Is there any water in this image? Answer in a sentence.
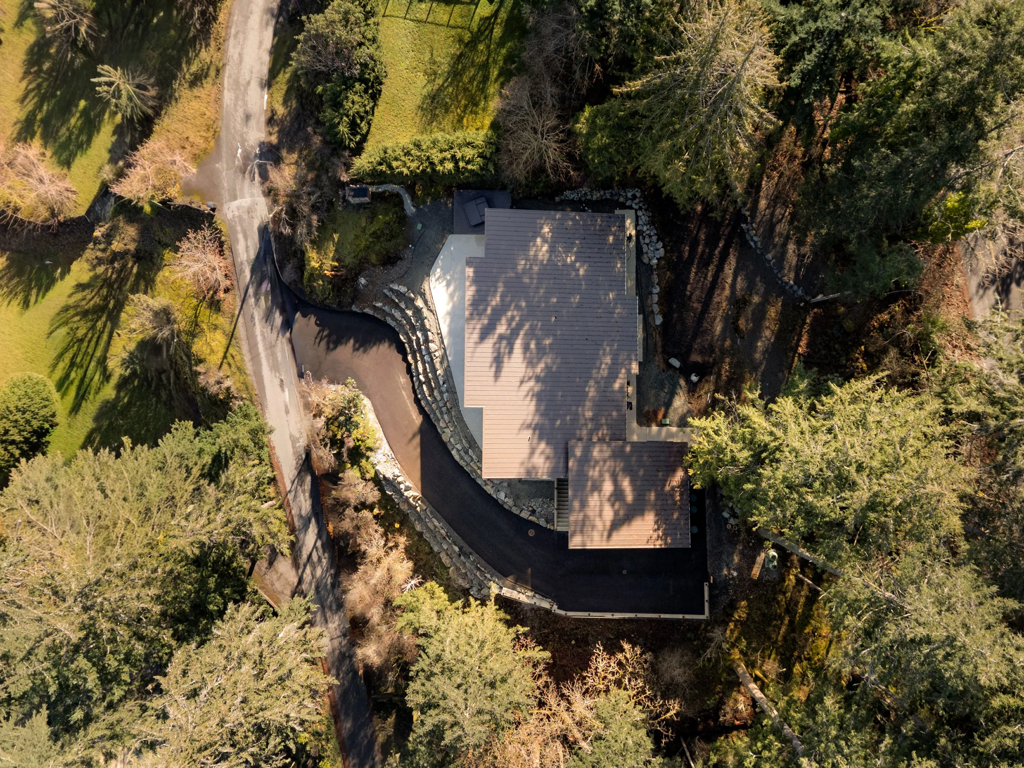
No, there is no water in the image.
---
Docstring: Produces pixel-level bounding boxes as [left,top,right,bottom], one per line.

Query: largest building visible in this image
[464,208,691,548]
